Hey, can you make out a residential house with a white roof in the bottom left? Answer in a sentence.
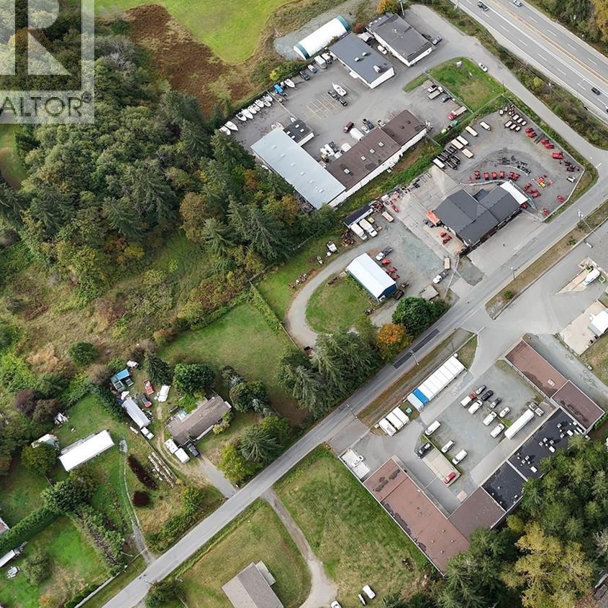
Yes, a residential house with a white roof shows up in the bottom left.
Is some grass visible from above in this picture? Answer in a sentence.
Yes, grass can be seen from above here.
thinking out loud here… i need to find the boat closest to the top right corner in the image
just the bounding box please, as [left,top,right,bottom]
[332,80,347,93]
